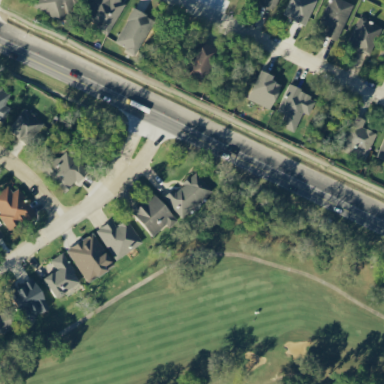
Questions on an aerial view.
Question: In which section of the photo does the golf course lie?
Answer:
bottom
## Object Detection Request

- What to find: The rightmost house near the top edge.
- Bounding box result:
[354,14,384,58]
